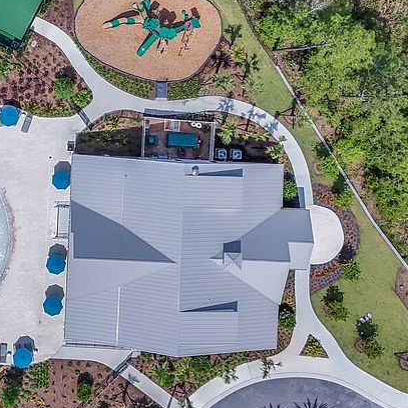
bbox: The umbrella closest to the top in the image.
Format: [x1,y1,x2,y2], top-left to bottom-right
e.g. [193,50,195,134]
[0,105,19,125]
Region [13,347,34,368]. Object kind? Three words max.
umbrella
